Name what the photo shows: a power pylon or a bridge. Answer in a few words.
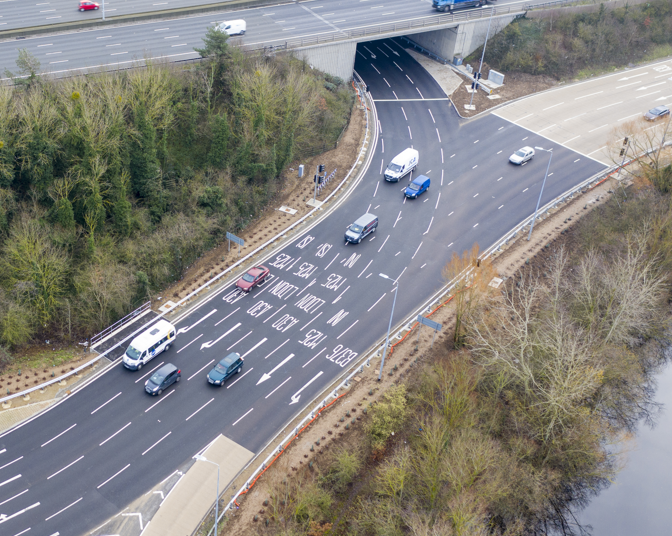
bridge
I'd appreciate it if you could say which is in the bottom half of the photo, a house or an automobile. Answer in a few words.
automobile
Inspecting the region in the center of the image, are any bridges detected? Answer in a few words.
No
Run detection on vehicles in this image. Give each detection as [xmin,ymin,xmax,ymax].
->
[509,146,537,165]
[383,148,420,182]
[645,104,672,120]
[145,364,182,396]
[204,351,246,388]
[432,0,487,12]
[234,264,270,293]
[118,319,175,373]
[214,18,247,37]
[344,211,379,244]
[403,174,431,200]
[77,0,99,11]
